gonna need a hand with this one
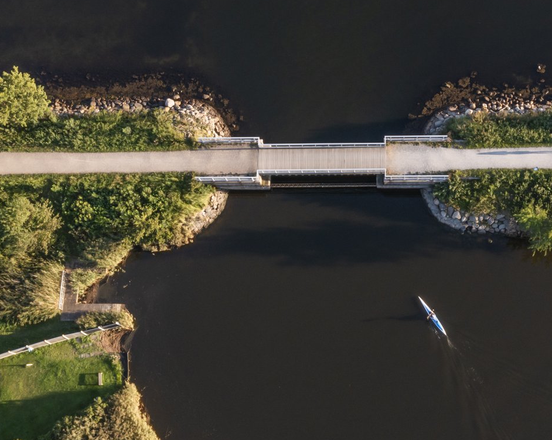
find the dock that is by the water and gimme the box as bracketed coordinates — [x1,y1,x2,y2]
[59,267,126,320]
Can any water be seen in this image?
Yes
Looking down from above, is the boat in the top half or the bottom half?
bottom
